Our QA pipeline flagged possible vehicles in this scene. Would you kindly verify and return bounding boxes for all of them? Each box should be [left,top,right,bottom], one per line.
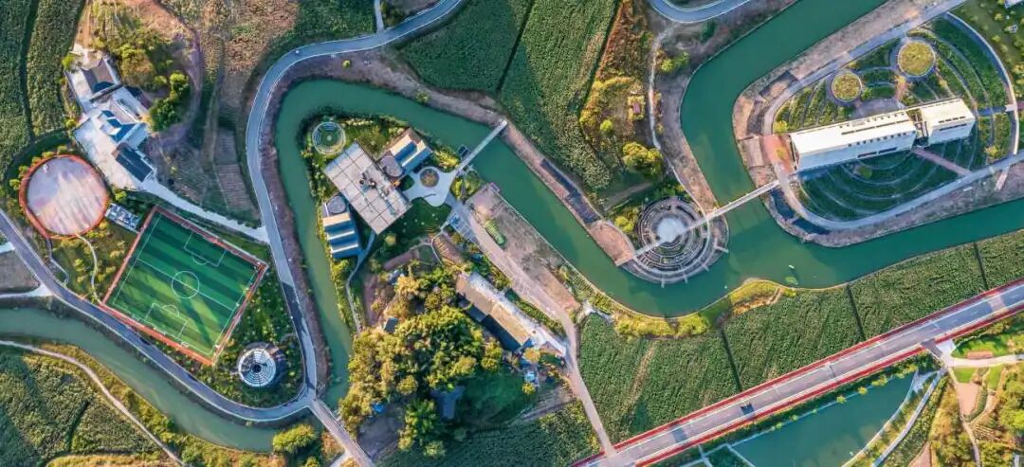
[187,373,198,382]
[139,337,150,346]
[293,48,301,54]
[739,405,754,415]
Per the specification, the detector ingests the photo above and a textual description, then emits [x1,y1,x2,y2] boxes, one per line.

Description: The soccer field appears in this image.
[103,207,268,365]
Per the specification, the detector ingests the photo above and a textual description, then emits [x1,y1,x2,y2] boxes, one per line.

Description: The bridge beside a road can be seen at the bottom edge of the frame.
[304,395,376,467]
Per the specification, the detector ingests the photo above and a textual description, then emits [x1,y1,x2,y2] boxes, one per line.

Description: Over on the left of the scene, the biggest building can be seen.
[322,141,412,234]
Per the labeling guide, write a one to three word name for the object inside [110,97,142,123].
house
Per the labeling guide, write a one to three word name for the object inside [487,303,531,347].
house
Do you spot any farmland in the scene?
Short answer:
Yes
